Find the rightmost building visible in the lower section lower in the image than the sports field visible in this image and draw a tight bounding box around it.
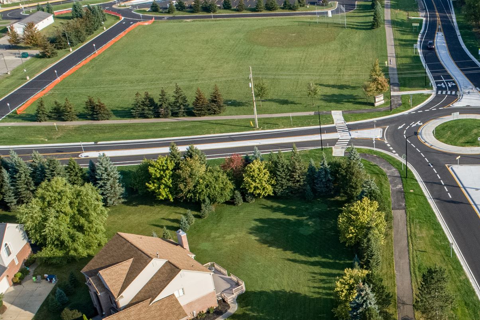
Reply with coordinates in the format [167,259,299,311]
[70,230,219,320]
